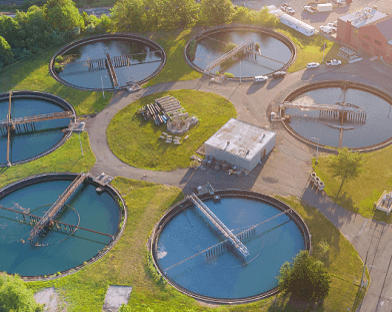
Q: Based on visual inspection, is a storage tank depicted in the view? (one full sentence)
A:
Yes, the picture does show a storage tank.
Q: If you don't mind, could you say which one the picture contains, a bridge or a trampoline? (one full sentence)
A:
Of the two, only a bridge appears.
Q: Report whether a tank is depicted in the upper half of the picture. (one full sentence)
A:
Yes, a tank shows up in the upper half of the picture.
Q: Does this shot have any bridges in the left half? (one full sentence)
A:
Yes, a bridge can be seen in the left half.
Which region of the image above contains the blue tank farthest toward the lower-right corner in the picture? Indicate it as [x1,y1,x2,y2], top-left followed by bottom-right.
[151,183,310,305]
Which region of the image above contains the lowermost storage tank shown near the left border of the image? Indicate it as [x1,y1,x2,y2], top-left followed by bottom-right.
[0,169,126,281]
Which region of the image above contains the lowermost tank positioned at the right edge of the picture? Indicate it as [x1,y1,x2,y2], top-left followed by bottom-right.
[274,80,392,153]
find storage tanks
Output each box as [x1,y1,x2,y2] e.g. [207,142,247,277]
[151,183,310,305]
[185,25,296,82]
[0,91,82,168]
[274,80,392,153]
[0,169,126,281]
[50,33,165,92]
